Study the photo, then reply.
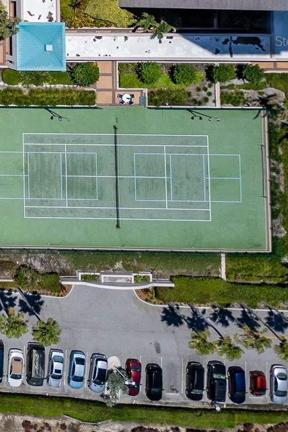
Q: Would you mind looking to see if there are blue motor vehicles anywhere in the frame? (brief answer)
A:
Yes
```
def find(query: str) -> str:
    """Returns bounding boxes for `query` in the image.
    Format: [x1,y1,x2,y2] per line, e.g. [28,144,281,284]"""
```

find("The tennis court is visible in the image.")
[0,107,266,250]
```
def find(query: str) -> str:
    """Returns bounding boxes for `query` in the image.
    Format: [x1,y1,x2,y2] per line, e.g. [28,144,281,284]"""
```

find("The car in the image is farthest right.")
[269,363,288,401]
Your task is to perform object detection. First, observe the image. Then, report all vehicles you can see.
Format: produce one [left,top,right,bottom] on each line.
[145,361,163,399]
[247,365,266,397]
[224,363,245,401]
[269,363,288,401]
[124,359,142,392]
[69,349,86,387]
[6,348,24,384]
[47,347,65,385]
[88,352,107,390]
[26,341,44,382]
[205,355,225,403]
[183,359,204,398]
